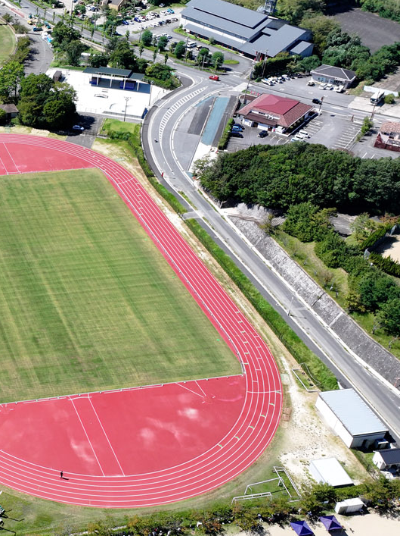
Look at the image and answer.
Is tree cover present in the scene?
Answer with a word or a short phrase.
Yes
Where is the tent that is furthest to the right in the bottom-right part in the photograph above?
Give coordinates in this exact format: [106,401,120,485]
[318,515,349,536]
